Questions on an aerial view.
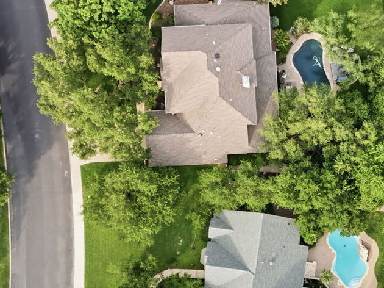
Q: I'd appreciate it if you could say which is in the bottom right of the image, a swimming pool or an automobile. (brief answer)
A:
swimming pool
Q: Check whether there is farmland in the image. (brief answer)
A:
No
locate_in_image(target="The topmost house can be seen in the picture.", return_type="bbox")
[145,1,280,166]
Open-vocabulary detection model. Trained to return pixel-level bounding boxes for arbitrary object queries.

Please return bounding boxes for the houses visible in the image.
[145,1,280,166]
[205,211,309,288]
